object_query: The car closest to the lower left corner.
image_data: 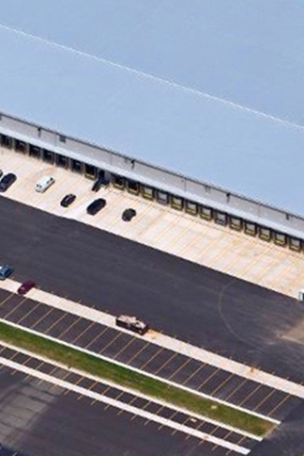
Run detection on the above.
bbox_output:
[16,279,36,293]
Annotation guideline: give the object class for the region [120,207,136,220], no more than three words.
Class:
vehicle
